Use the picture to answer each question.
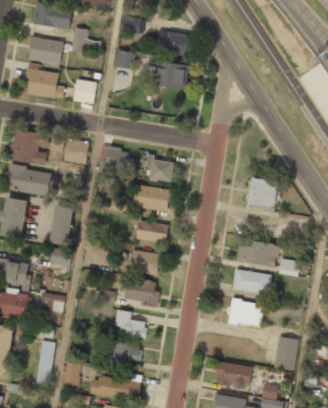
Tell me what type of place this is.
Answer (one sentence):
The area seen from above is a residential area.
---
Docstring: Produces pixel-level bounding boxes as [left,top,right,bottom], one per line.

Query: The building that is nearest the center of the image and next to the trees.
[138,186,170,212]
